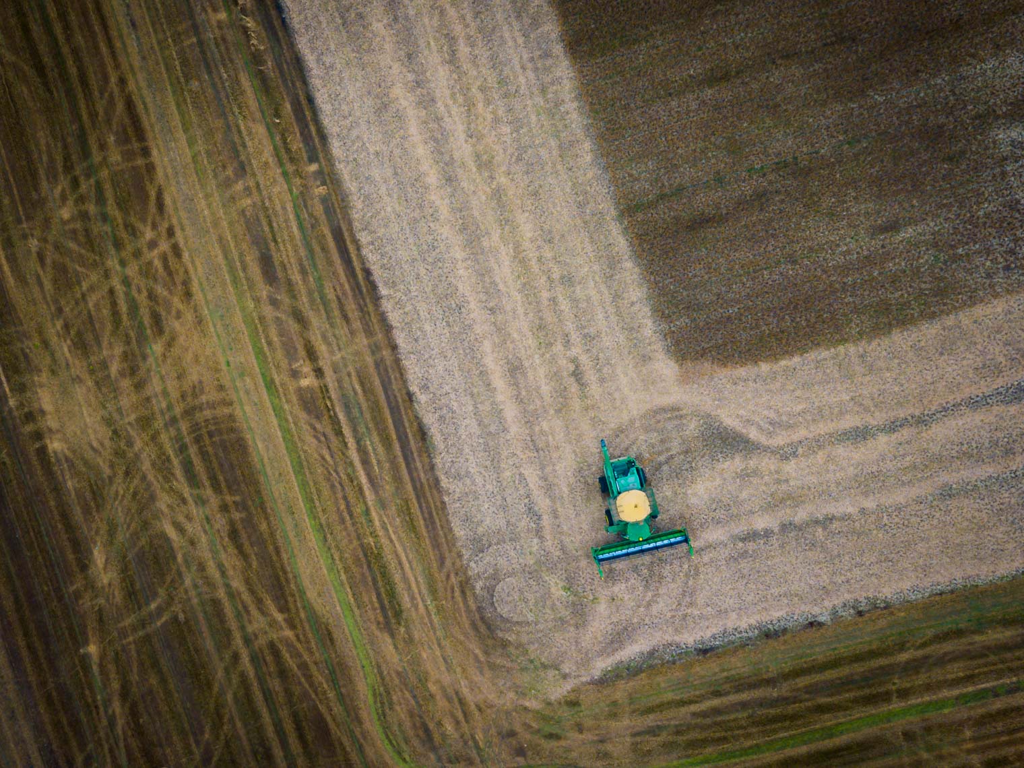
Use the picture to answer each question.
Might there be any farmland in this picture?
Yes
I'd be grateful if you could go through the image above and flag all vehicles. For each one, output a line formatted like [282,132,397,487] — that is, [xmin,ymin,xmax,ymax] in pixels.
[590,437,693,578]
